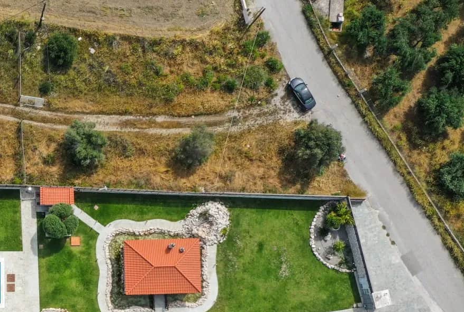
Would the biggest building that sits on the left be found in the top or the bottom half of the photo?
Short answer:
bottom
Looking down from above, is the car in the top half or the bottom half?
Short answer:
top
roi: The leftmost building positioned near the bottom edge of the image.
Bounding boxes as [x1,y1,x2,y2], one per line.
[122,238,203,311]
